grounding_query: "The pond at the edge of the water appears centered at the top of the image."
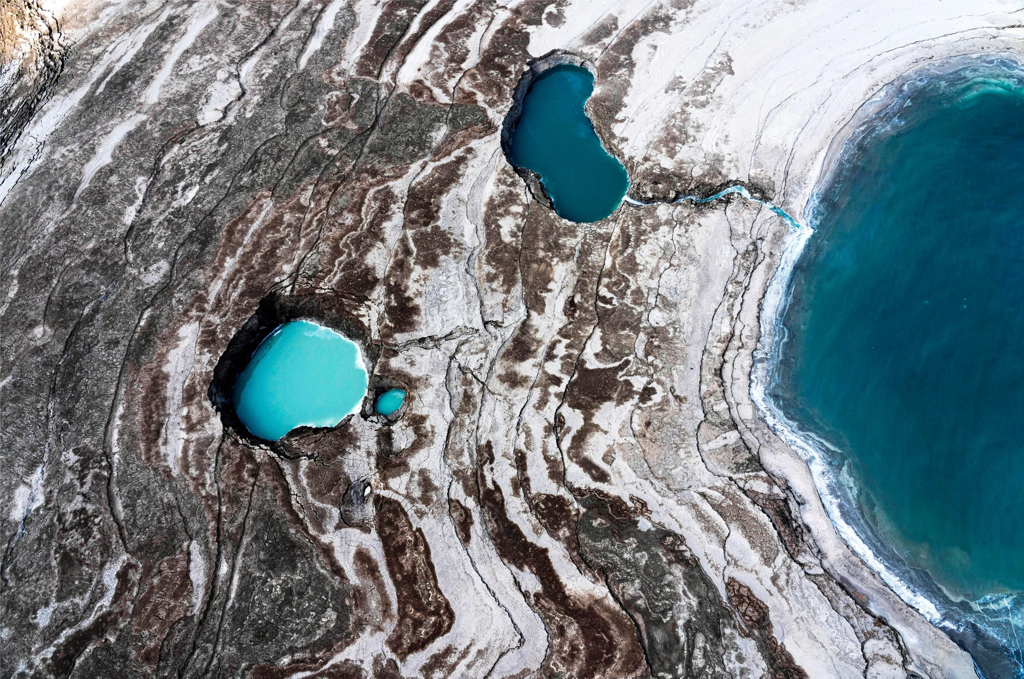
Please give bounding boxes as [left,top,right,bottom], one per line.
[510,64,630,222]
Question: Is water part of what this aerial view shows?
Yes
